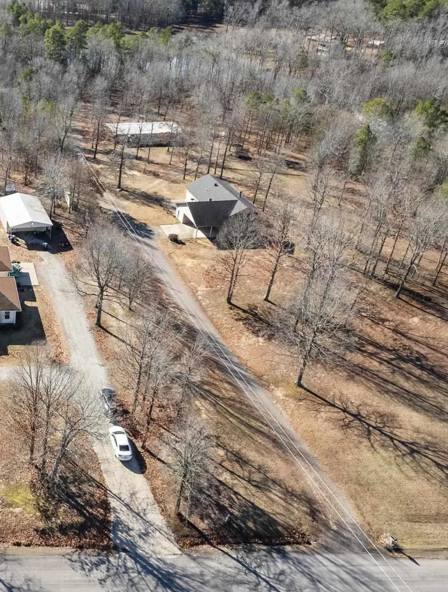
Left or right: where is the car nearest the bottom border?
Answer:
left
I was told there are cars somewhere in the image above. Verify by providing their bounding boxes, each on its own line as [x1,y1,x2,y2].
[101,388,120,415]
[110,426,132,457]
